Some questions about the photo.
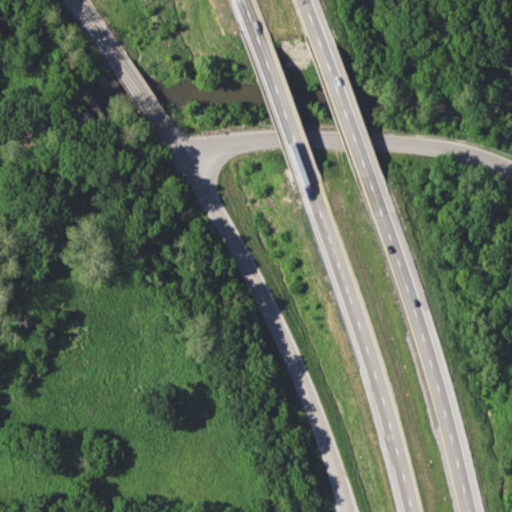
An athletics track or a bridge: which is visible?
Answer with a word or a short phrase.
bridge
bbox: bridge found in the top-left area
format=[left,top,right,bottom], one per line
[109,54,168,128]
